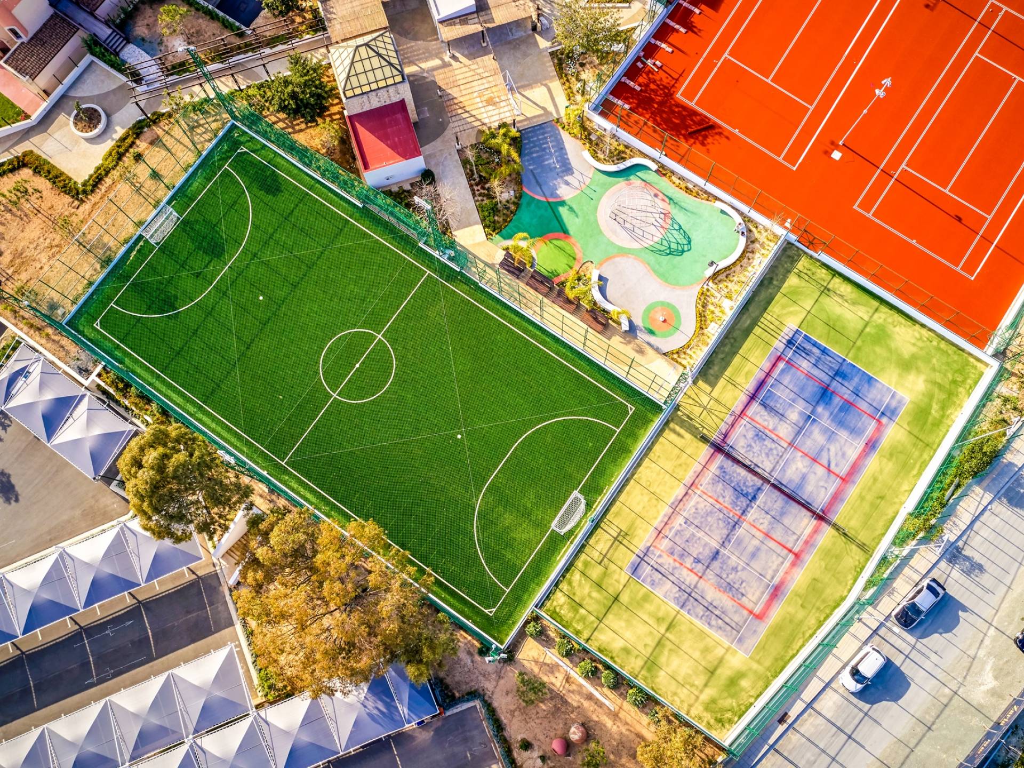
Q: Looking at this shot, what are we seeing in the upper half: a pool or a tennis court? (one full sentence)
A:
What appears in the upper half is a tennis court.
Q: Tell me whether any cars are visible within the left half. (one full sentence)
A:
No, there is no car within the left half.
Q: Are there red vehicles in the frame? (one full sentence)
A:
No, there appears to be no red vehicle in this shot.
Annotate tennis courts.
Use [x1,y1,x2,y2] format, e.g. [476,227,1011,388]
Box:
[541,242,999,743]
[593,0,947,234]
[791,0,1024,354]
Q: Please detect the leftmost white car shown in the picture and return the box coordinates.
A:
[836,640,890,694]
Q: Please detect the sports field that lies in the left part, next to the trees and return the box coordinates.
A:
[62,122,666,649]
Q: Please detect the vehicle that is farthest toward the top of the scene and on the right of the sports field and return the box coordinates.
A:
[889,576,950,629]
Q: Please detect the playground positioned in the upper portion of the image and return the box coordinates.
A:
[491,120,739,353]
